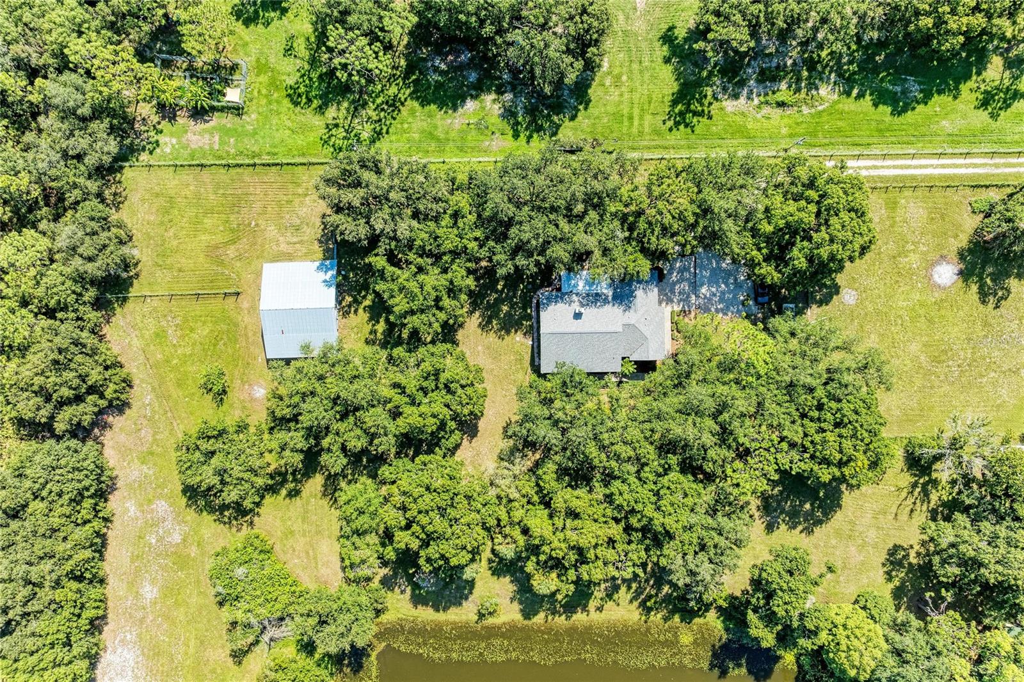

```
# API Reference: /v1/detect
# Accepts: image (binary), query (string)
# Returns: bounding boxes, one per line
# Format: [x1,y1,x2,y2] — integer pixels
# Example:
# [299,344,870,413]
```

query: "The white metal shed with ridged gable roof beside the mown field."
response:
[260,260,339,360]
